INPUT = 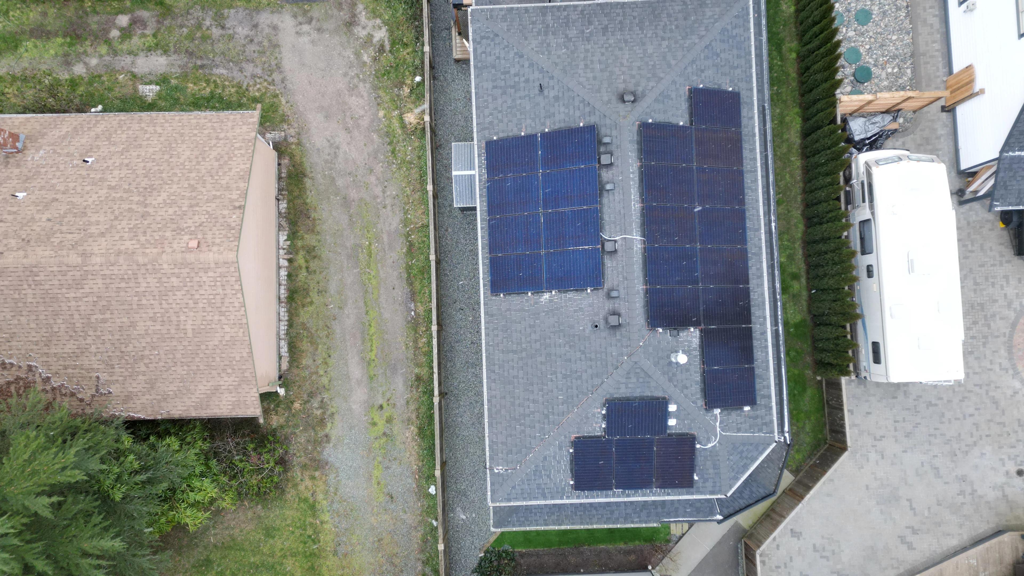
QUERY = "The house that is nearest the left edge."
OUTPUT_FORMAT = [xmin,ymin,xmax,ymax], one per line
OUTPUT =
[0,108,285,426]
